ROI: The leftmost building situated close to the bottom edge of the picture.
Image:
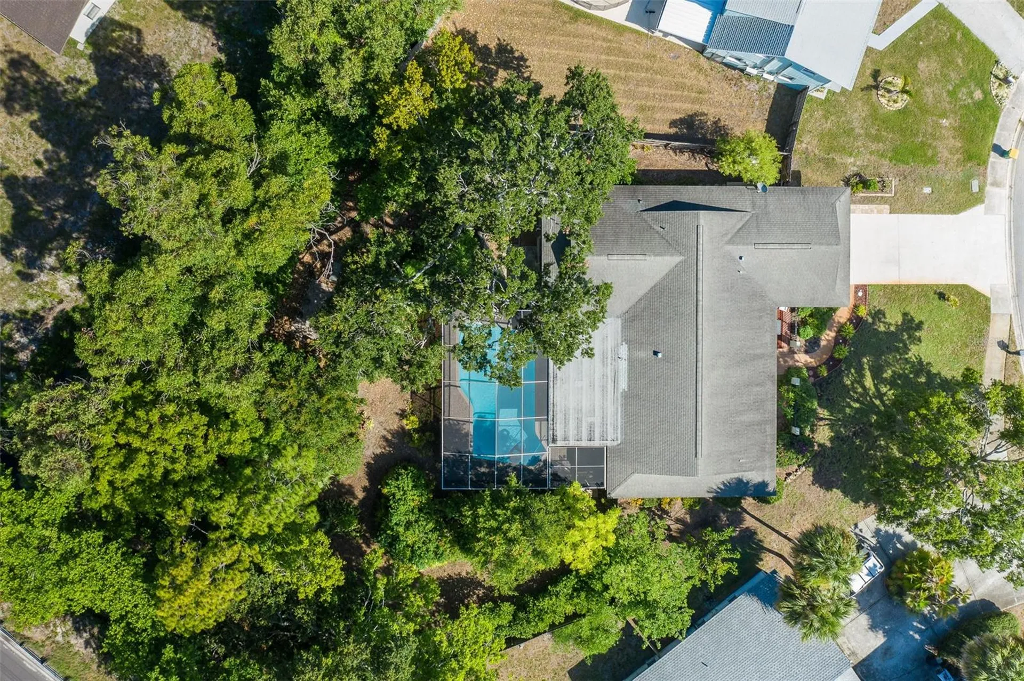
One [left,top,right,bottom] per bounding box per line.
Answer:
[621,570,859,681]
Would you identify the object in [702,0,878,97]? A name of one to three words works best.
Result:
house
